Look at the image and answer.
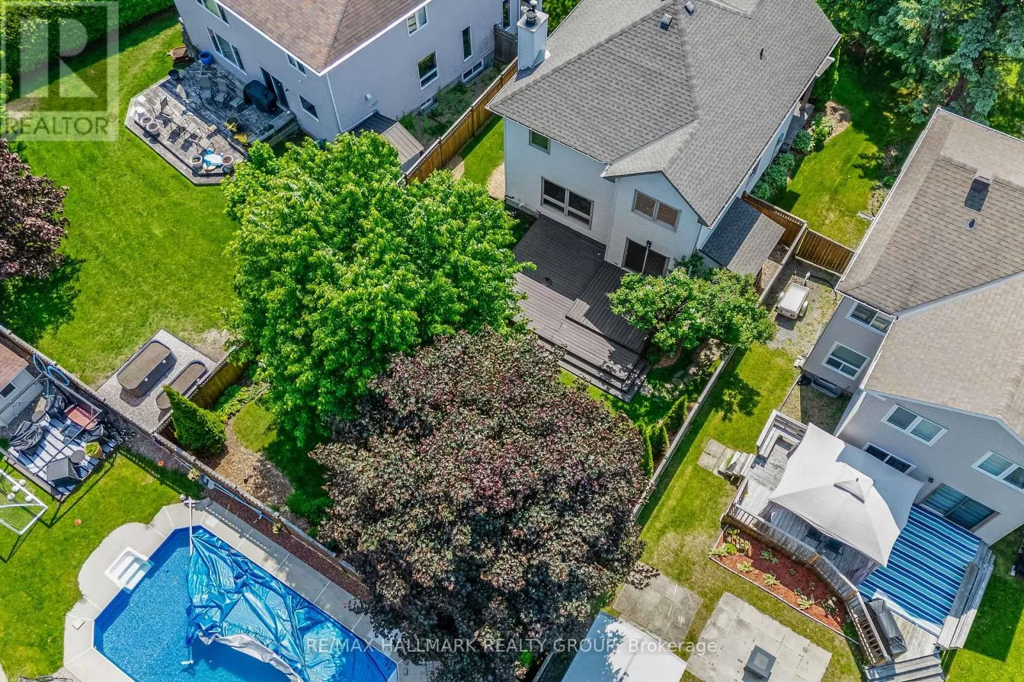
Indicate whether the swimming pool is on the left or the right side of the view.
left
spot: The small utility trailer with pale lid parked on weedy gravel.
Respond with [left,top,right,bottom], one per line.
[768,273,812,324]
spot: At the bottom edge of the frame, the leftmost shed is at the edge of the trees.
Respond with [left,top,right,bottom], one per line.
[561,615,686,682]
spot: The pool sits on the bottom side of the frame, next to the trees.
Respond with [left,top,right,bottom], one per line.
[94,526,399,682]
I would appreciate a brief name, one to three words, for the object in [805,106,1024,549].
house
